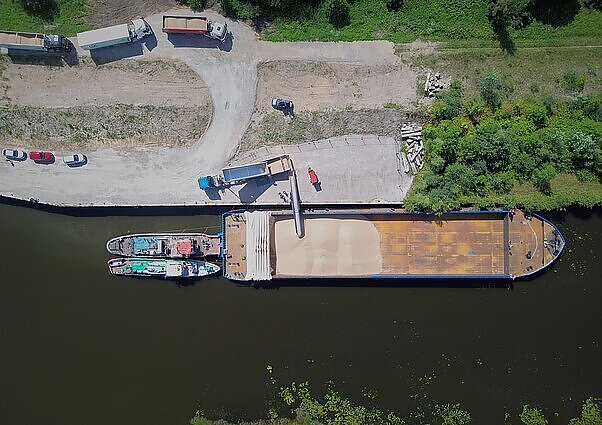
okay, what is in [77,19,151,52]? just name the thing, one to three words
truck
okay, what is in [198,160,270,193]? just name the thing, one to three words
truck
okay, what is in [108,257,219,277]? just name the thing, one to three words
boat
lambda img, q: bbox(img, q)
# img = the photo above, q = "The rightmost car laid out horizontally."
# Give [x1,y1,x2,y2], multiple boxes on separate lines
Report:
[270,98,293,110]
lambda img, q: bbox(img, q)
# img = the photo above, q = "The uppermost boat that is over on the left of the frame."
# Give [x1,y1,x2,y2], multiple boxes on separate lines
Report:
[106,232,222,259]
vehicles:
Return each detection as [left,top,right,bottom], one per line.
[77,19,151,52]
[162,17,228,43]
[270,98,293,110]
[198,160,270,193]
[1,150,26,160]
[0,31,73,55]
[62,153,86,163]
[29,152,53,162]
[307,169,320,183]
